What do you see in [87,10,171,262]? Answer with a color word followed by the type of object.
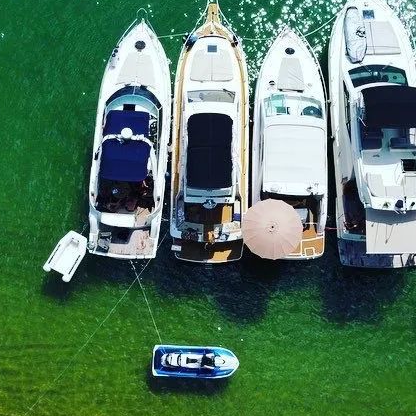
white boat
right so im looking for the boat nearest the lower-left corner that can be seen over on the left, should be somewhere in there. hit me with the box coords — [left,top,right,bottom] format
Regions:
[45,226,89,282]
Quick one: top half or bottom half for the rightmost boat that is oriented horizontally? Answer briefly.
bottom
